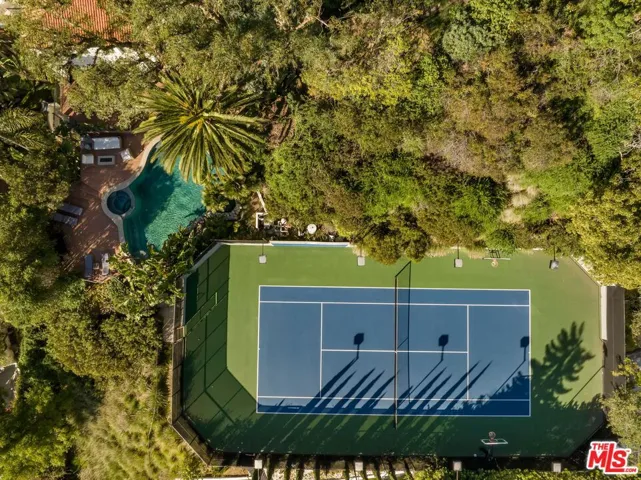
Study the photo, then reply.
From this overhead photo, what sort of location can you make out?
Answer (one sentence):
This image shows a sports ground.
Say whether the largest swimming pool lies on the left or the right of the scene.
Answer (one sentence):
You can find the largest swimming pool on the left side of the picture.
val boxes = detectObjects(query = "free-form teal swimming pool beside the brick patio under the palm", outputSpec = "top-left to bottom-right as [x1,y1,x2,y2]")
[116,137,217,260]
